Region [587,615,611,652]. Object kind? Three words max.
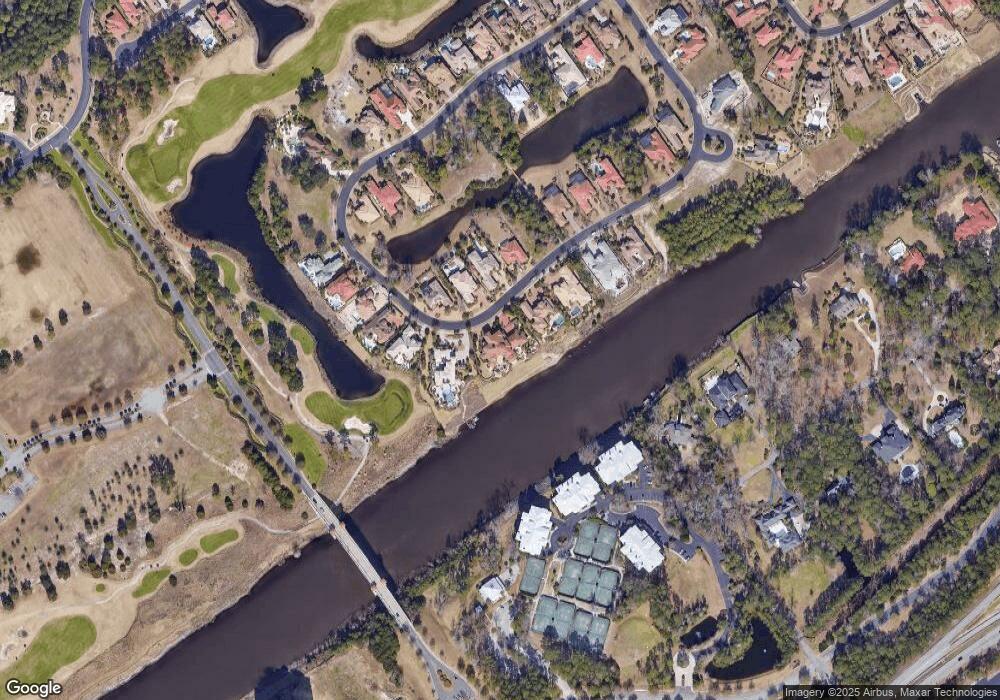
tennis court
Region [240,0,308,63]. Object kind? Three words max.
pond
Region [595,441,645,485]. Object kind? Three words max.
building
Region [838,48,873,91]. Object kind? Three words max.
house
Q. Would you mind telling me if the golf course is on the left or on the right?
left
